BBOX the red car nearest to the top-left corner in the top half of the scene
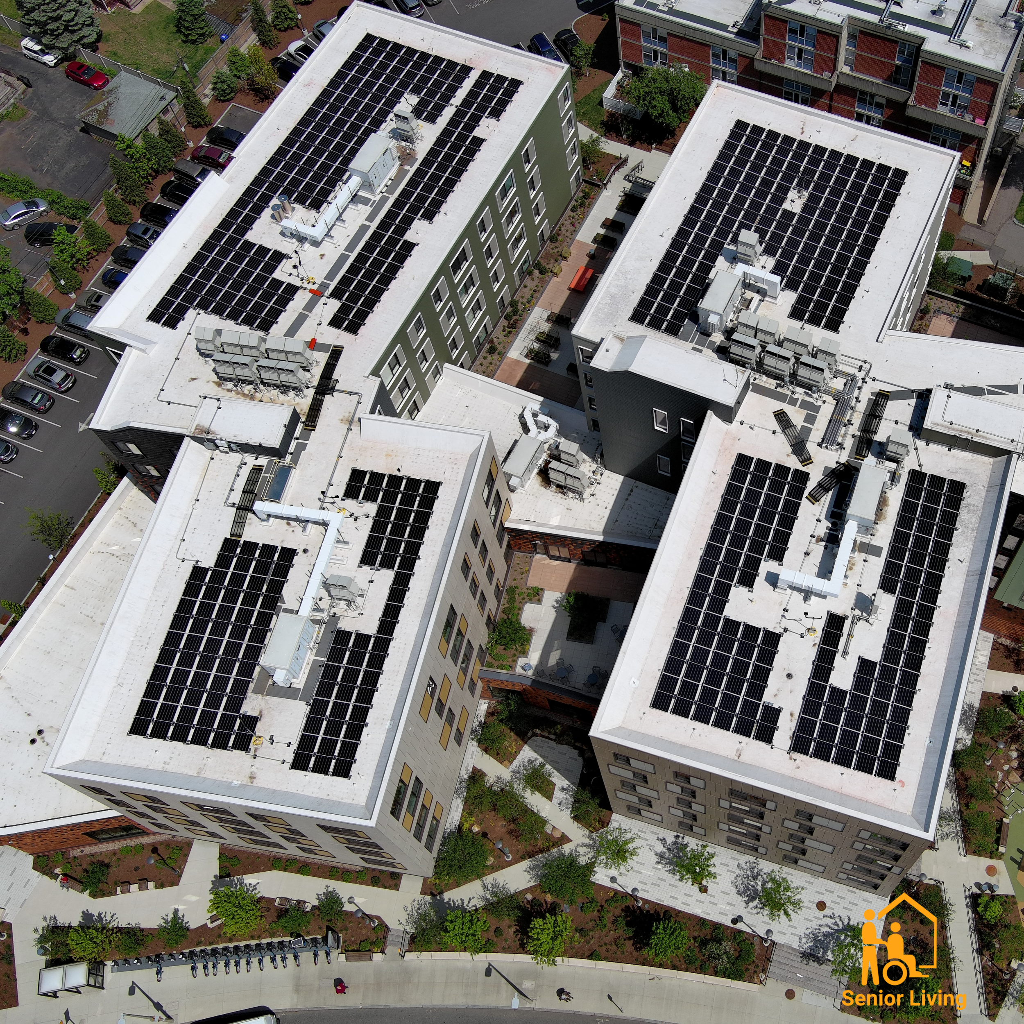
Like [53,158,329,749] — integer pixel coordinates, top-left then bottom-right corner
[61,63,110,94]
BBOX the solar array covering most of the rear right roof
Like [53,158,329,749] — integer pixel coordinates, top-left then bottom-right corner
[629,119,911,338]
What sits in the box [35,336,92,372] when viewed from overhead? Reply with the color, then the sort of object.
black car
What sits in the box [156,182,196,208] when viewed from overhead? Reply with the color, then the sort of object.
black car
